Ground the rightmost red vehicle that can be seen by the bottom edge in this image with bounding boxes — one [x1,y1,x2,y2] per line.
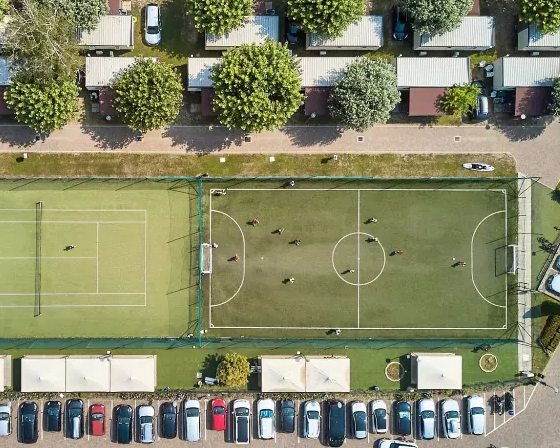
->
[210,397,228,430]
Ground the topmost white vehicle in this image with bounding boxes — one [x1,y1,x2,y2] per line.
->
[143,5,161,46]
